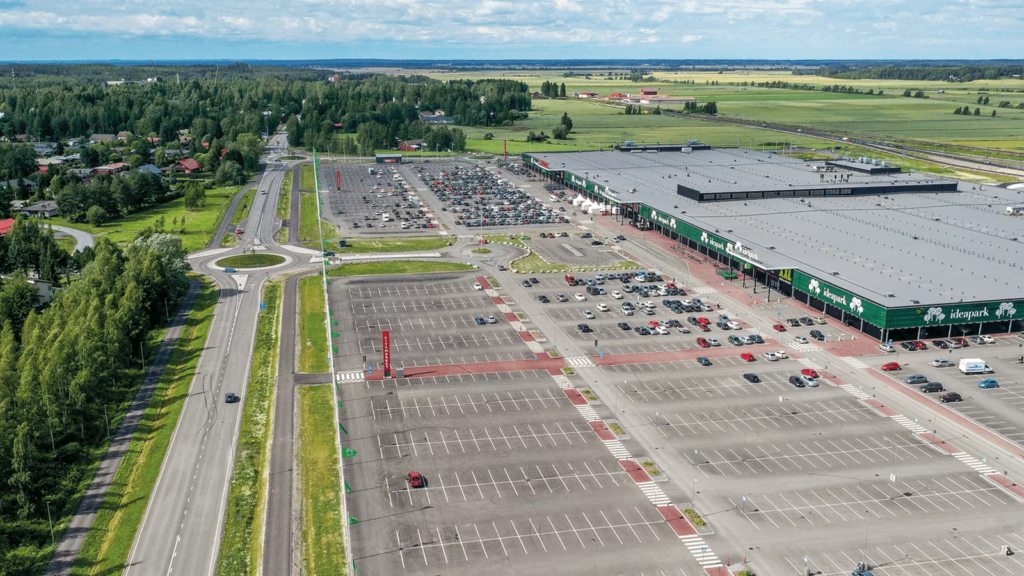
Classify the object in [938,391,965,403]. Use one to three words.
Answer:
vehicle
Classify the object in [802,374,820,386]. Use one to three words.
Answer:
vehicle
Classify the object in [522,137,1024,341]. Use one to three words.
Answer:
building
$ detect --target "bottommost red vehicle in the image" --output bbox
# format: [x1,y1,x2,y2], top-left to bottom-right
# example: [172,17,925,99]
[405,473,425,490]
